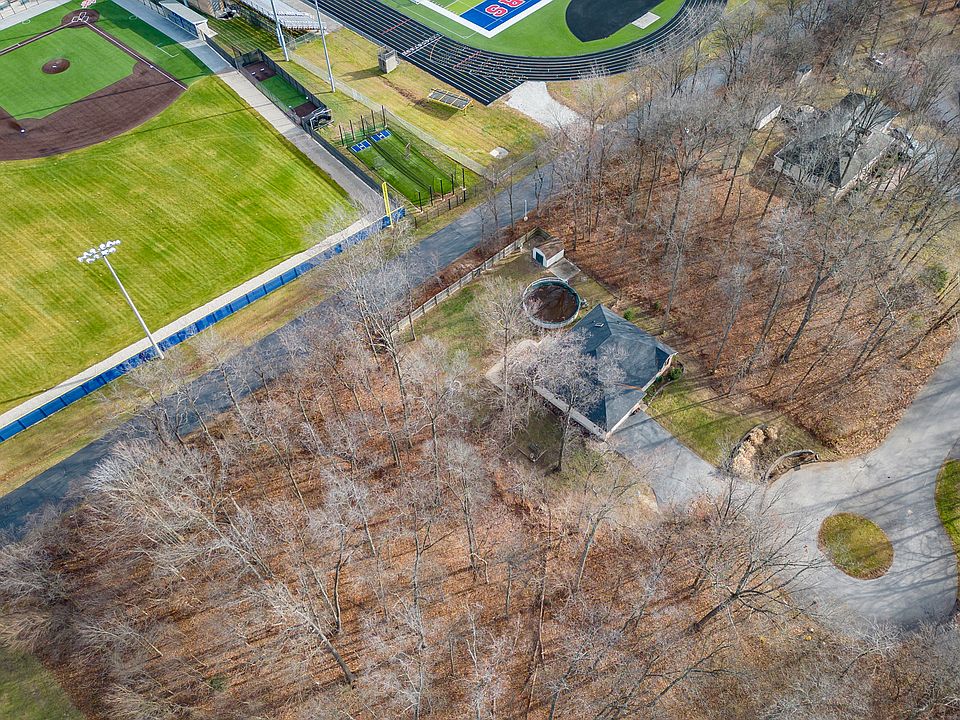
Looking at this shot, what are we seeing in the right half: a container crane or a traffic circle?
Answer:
traffic circle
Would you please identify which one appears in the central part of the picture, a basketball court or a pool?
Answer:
pool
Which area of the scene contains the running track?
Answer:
top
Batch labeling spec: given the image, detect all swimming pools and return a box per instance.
[522,281,580,330]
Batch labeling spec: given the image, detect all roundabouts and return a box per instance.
[820,515,892,578]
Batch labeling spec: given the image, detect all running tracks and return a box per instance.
[296,0,730,101]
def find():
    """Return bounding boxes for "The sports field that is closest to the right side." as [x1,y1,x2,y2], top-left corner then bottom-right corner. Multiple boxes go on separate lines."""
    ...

[374,0,682,55]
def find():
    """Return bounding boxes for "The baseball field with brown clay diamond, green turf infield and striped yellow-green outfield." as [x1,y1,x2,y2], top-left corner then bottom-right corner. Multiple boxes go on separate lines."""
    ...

[0,0,403,441]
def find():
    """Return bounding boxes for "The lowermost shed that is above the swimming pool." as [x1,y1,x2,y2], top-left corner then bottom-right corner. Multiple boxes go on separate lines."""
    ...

[532,235,566,267]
